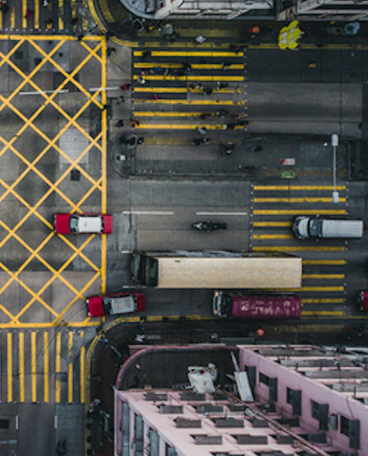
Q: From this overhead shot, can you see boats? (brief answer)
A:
No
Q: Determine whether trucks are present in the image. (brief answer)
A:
Yes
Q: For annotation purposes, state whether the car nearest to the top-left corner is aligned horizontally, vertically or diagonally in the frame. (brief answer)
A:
horizontally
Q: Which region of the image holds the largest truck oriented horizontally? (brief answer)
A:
center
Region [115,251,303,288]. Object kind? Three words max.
truck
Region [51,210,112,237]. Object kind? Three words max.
car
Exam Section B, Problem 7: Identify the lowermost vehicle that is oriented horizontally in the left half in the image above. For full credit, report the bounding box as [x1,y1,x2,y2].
[84,292,147,320]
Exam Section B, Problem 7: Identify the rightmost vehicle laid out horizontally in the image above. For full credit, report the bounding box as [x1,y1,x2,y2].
[292,214,367,242]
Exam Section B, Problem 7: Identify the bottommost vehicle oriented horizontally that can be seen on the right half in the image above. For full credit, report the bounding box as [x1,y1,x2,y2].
[211,290,315,323]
